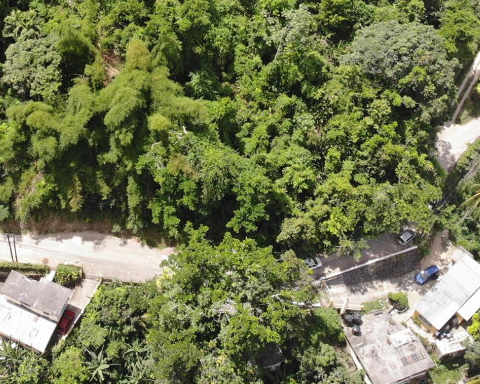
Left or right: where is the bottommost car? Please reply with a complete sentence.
The bottommost car is on the left side of the image.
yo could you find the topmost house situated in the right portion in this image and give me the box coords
[412,253,480,336]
